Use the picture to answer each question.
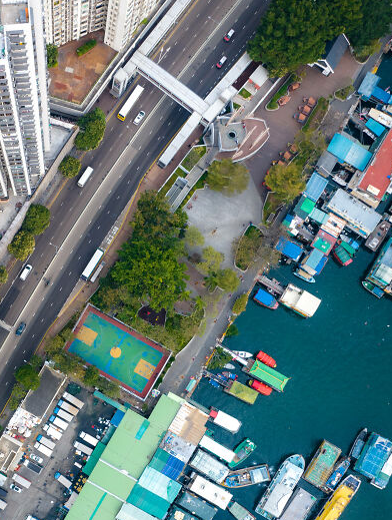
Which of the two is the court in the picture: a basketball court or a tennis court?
basketball court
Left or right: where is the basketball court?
left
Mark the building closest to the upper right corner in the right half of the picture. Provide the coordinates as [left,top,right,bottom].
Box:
[309,32,345,79]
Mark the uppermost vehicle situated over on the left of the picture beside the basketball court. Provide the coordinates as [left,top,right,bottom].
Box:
[80,247,106,284]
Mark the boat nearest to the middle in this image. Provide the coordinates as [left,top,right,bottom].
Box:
[250,286,280,308]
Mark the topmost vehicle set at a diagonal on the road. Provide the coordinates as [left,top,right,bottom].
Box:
[222,28,234,44]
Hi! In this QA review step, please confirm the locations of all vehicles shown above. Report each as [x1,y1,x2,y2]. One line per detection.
[72,438,96,458]
[62,390,86,410]
[78,431,100,449]
[53,467,75,491]
[22,457,45,477]
[47,413,71,432]
[214,57,226,70]
[11,472,34,492]
[115,83,145,125]
[15,321,26,336]
[77,166,93,188]
[33,441,55,460]
[19,264,33,283]
[0,499,10,513]
[43,422,65,442]
[9,481,26,493]
[57,396,81,415]
[53,405,76,422]
[133,110,146,126]
[25,513,38,520]
[29,453,46,465]
[222,28,234,44]
[35,433,58,452]
[80,247,106,284]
